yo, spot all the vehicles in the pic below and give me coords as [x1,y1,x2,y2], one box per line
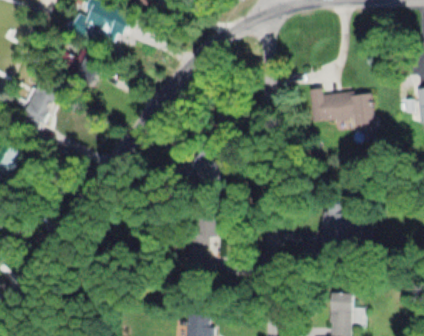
[0,266,11,274]
[303,74,308,84]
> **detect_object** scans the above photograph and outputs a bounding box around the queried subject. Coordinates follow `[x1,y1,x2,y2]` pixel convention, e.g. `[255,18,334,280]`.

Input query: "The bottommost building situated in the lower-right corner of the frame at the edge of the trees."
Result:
[331,294,369,336]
